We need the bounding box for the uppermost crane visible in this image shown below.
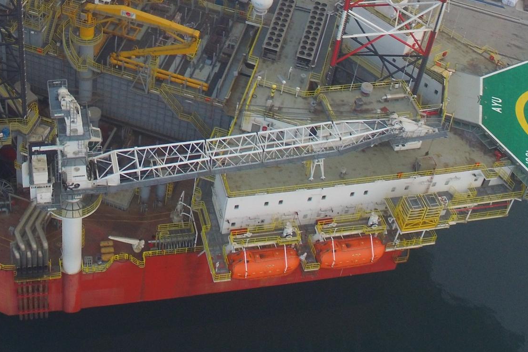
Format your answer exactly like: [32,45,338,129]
[52,0,198,110]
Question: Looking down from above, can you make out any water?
Yes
